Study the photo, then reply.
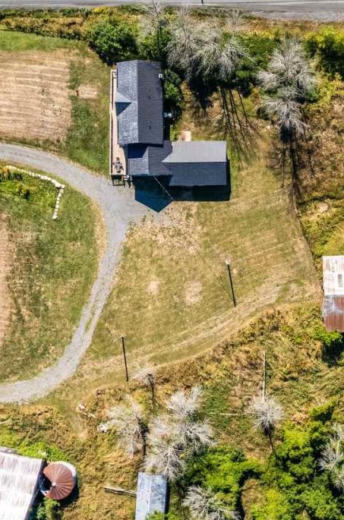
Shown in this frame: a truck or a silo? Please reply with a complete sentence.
There is a silo in the scene.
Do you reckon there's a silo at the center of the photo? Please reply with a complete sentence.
No, at the center of the photo there is no silo.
